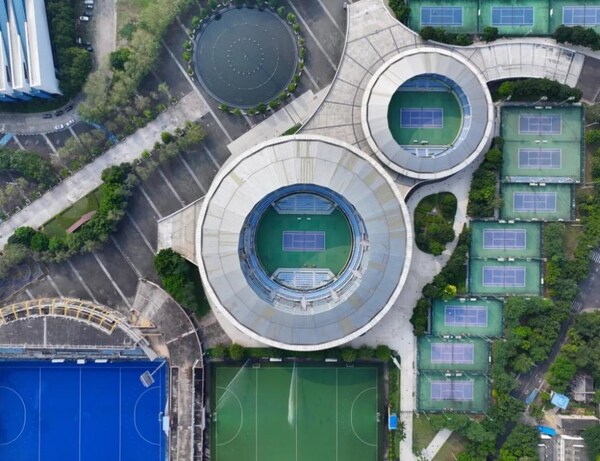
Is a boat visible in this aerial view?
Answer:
No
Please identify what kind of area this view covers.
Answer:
sports ground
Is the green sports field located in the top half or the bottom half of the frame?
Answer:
bottom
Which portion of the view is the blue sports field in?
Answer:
bottom left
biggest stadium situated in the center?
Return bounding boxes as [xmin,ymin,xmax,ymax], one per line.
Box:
[196,135,412,350]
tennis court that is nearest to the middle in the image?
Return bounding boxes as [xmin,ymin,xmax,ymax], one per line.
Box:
[255,193,353,291]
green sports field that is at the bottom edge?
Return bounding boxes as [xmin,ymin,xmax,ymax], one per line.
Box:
[212,363,379,461]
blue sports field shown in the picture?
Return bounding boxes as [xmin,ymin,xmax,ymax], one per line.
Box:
[0,361,169,461]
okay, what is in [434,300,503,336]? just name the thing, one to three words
tennis court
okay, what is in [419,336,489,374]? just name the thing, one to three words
tennis court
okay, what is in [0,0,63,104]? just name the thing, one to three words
building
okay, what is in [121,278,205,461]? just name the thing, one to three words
building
